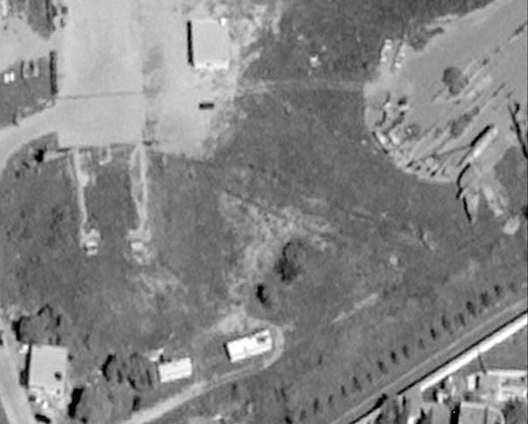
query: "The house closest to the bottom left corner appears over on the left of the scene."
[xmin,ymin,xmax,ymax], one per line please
[27,345,68,411]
